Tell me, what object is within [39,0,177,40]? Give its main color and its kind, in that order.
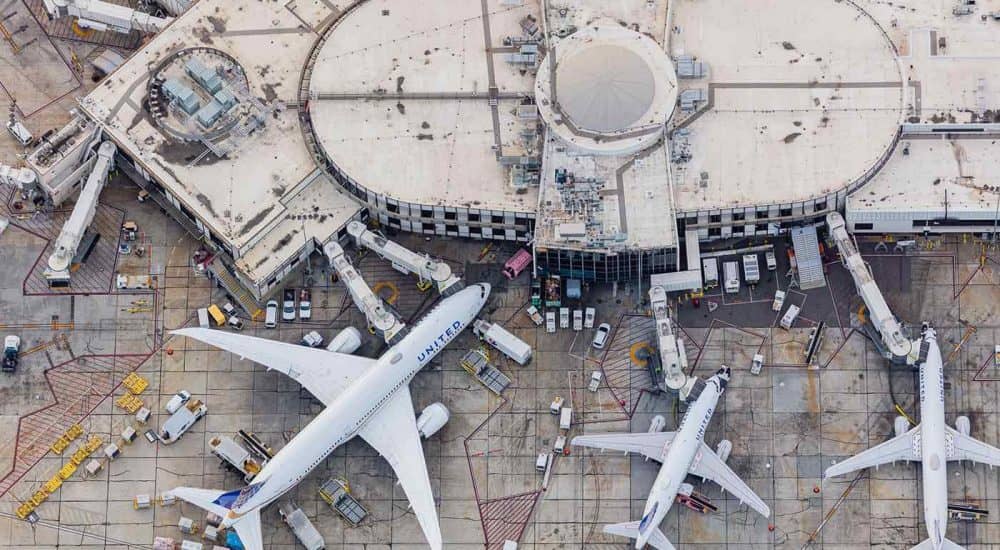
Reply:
white jet bridge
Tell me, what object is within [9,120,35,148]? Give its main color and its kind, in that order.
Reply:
white truck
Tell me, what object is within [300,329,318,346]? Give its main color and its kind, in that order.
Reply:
white work vehicle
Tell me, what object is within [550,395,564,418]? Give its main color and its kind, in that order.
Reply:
white vehicle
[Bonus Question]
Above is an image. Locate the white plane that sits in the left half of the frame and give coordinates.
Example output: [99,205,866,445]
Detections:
[169,284,491,550]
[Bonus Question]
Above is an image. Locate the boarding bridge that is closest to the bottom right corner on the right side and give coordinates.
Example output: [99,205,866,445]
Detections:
[824,213,932,371]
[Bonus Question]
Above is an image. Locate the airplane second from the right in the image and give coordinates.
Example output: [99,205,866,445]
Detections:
[568,367,771,550]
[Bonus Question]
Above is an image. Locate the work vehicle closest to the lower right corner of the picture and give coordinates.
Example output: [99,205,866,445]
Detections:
[947,503,990,520]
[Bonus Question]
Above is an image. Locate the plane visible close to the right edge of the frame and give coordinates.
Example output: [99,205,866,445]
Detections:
[825,327,1000,550]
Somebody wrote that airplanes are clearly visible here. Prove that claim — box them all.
[169,284,491,550]
[568,367,771,550]
[825,327,1000,550]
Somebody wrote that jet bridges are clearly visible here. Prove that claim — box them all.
[347,219,467,300]
[46,139,119,297]
[322,240,418,342]
[39,0,177,40]
[646,271,708,411]
[824,213,932,371]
